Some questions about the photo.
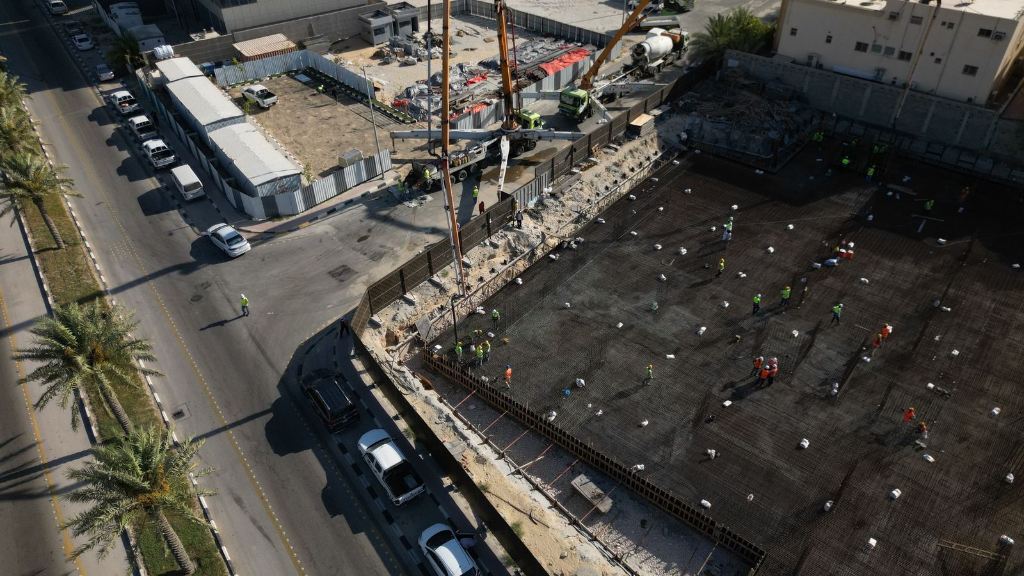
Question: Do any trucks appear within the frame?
Yes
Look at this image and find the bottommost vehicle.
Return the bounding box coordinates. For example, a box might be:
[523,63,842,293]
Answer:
[419,518,490,576]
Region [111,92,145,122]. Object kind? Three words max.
truck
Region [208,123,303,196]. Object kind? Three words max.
building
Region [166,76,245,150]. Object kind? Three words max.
building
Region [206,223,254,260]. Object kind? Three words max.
car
